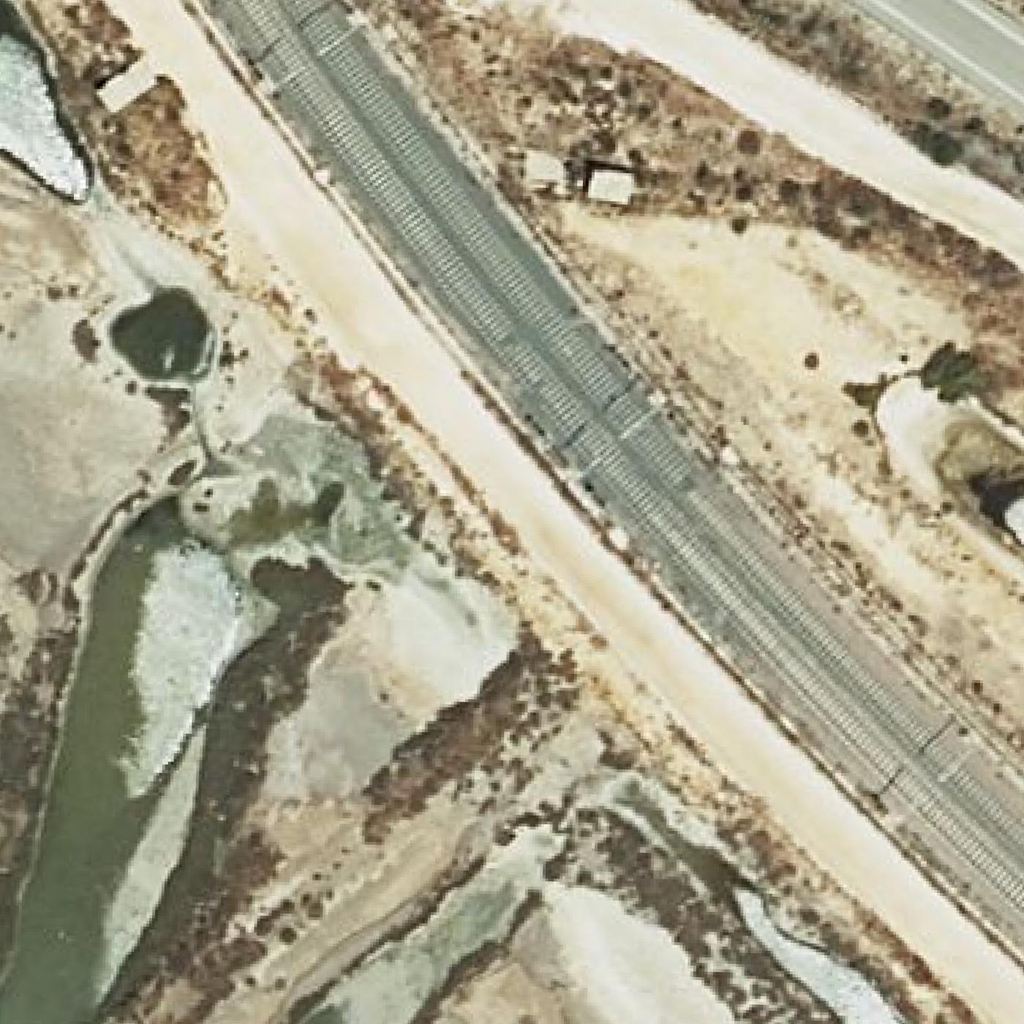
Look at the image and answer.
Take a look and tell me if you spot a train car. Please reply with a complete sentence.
No, there is no train car in the image.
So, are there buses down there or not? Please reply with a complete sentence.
No, no bus can be seen from above.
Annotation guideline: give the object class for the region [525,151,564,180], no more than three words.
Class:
shed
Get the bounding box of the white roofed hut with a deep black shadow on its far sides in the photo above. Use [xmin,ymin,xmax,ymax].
[588,170,634,204]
